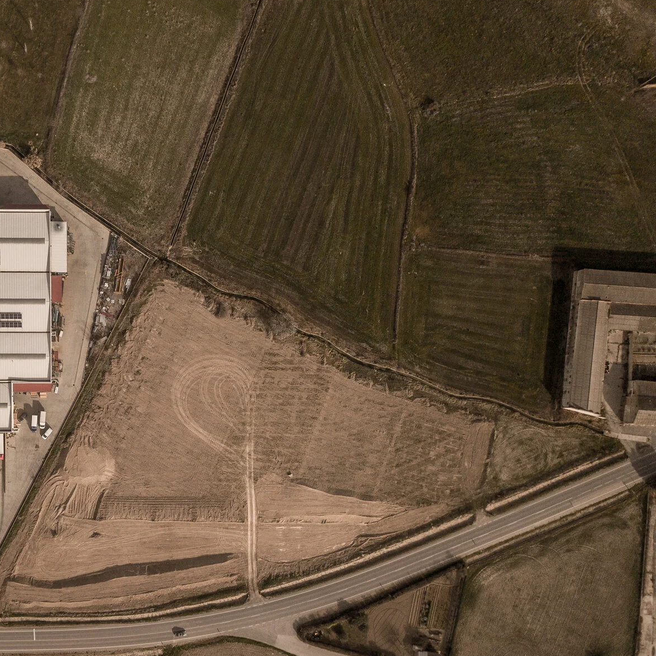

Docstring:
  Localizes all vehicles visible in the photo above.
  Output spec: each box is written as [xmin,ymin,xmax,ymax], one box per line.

[173,631,186,638]
[32,414,37,433]
[41,426,52,441]
[16,412,27,423]
[53,385,59,395]
[39,411,46,429]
